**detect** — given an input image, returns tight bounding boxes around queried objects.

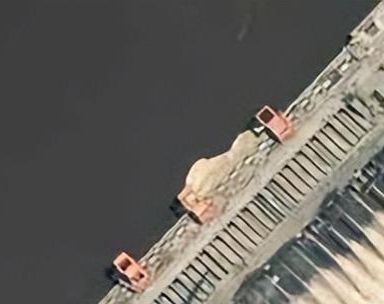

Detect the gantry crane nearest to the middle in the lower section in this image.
[179,186,218,225]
